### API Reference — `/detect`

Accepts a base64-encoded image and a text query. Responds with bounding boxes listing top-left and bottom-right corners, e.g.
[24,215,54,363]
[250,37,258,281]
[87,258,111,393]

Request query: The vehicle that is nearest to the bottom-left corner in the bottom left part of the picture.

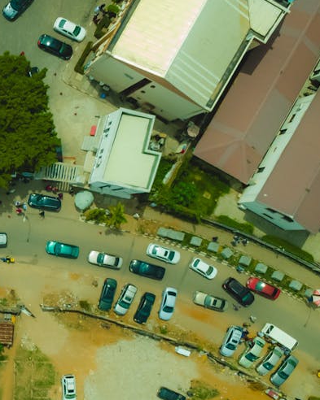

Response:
[60,373,78,400]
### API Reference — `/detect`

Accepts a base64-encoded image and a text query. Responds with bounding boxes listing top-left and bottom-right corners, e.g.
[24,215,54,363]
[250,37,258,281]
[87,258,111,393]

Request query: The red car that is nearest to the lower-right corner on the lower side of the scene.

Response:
[243,276,282,301]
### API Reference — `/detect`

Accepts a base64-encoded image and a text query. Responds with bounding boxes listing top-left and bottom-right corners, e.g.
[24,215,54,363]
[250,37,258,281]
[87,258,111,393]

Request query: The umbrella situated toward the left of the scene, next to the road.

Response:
[74,190,94,210]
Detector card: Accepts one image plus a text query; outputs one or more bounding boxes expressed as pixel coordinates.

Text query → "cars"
[127,260,169,279]
[133,290,155,325]
[26,192,63,211]
[186,255,218,280]
[51,16,87,43]
[60,373,78,400]
[36,31,73,61]
[3,0,29,21]
[254,344,284,377]
[45,241,80,258]
[154,385,188,400]
[269,353,299,388]
[217,324,245,357]
[86,251,123,268]
[144,245,181,264]
[190,292,228,311]
[218,276,257,307]
[98,277,118,312]
[157,286,177,321]
[243,276,282,301]
[238,335,265,369]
